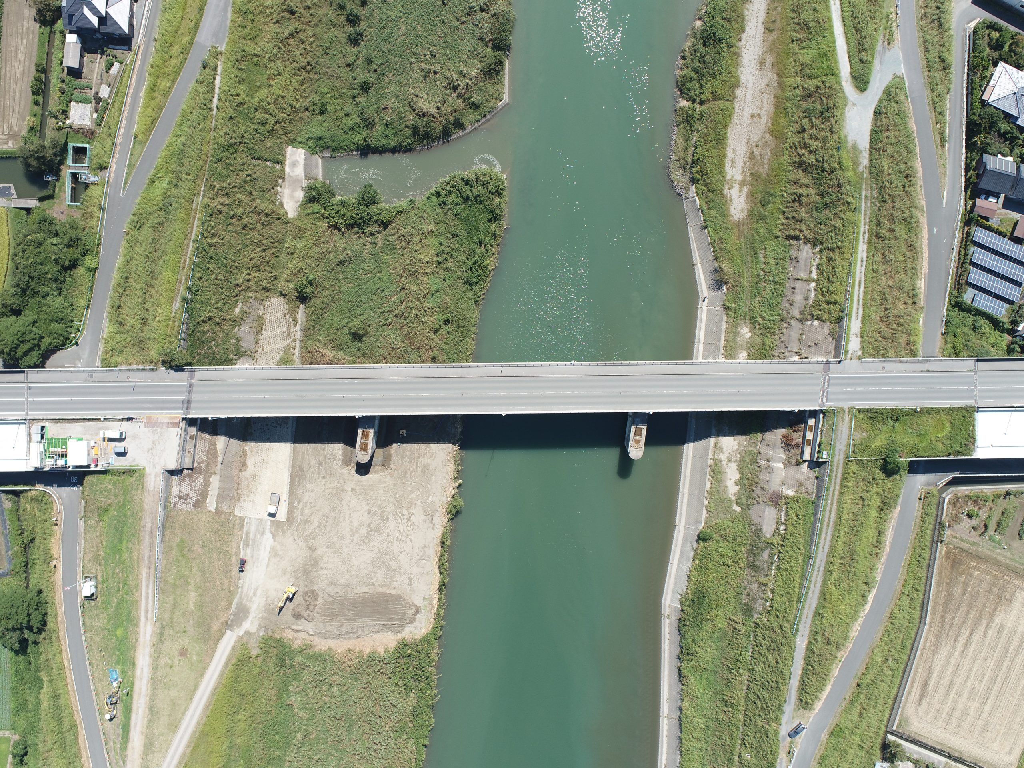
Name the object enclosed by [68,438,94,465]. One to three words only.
shed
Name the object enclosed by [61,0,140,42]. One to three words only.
house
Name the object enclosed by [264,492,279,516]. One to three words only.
vehicle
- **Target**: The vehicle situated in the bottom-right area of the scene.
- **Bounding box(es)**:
[788,724,807,741]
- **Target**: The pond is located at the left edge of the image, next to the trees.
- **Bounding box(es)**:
[0,156,59,200]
